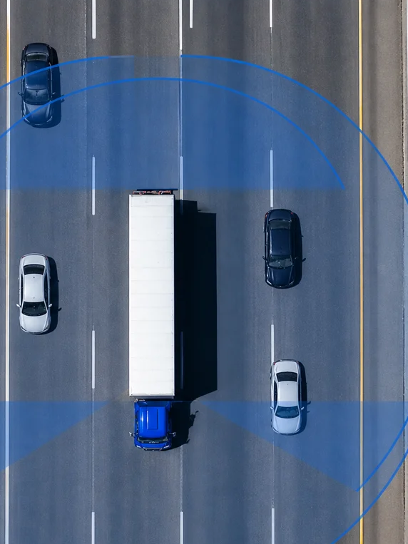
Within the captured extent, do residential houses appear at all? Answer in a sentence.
No, I can see no residential house in this picture.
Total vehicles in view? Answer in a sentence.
Altogether the scene contains 5 vehicles.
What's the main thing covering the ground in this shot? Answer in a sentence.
For the most part, this view shows paved ground.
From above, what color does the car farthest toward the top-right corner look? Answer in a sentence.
The car farthest toward the top-right corner looks black in the image.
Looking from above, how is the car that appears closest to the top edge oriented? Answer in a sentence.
Seen from above, the car that appears closest to the top edge lies up and down.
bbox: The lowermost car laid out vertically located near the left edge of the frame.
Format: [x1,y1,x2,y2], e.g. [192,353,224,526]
[16,253,52,334]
